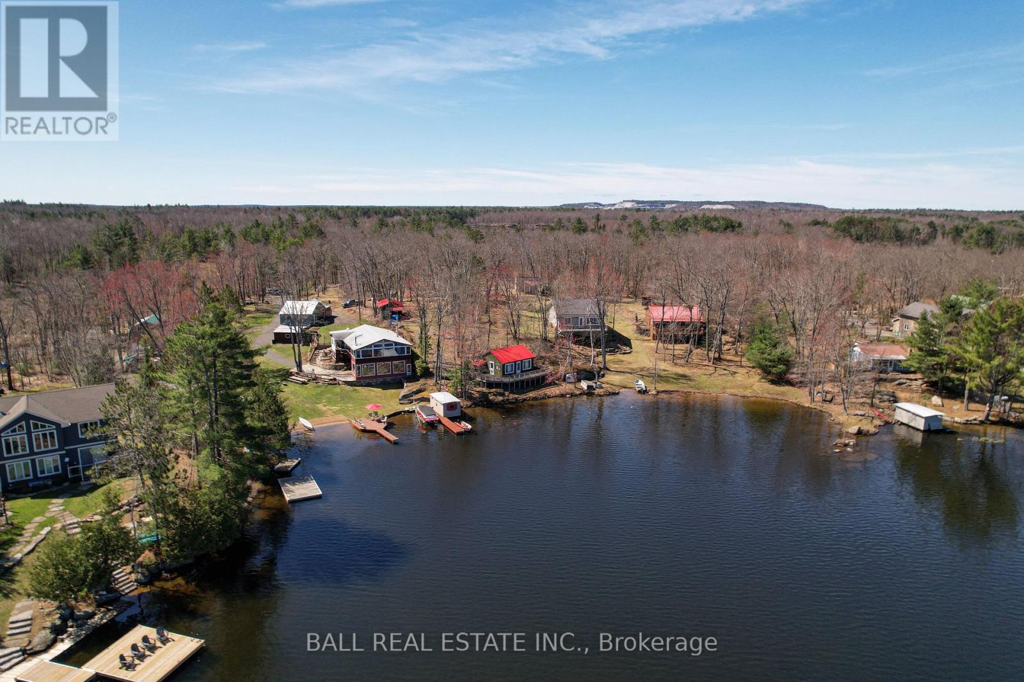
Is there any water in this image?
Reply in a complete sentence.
Yes, some water is visible.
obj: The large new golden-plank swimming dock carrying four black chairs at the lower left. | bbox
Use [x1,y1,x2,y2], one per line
[81,624,214,682]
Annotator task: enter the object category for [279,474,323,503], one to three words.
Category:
pier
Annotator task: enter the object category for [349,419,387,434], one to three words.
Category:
pier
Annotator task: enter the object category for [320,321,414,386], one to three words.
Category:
house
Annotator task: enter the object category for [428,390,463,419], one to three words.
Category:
building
